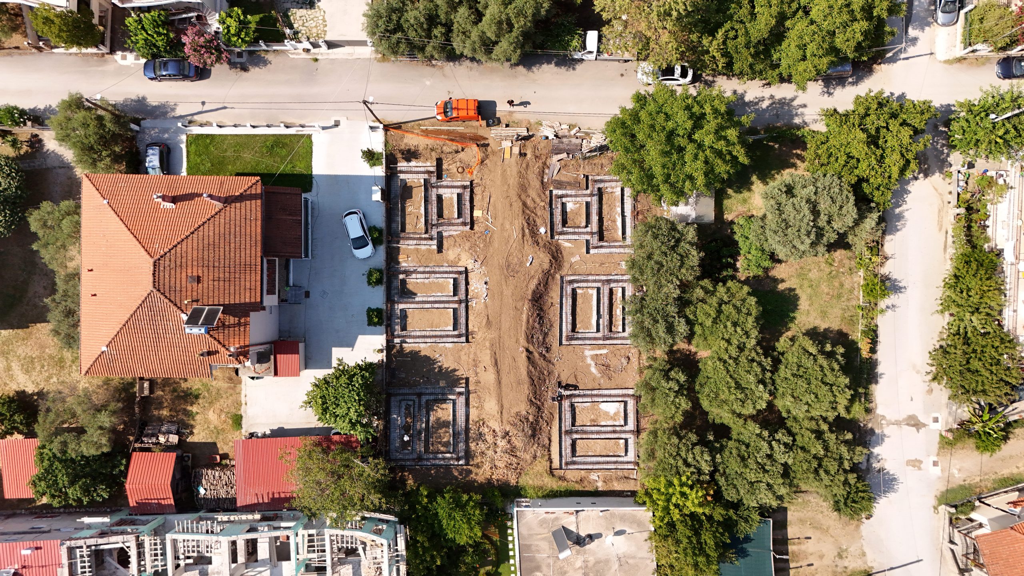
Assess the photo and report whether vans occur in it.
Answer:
Yes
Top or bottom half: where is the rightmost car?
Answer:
top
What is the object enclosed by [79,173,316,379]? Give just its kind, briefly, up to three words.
house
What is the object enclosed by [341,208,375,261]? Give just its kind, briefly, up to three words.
car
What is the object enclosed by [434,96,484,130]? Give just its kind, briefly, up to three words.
van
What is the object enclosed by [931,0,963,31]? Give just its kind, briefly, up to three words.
car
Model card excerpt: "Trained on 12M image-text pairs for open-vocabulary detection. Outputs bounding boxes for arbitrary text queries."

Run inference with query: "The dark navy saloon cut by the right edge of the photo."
[992,53,1024,81]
